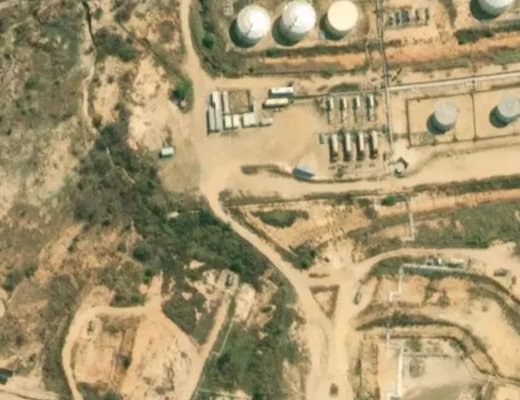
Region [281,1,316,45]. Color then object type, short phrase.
white storage tank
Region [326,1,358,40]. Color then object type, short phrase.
white storage tank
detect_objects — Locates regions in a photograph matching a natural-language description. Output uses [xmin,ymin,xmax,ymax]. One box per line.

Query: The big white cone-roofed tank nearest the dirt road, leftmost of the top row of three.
[236,6,270,48]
